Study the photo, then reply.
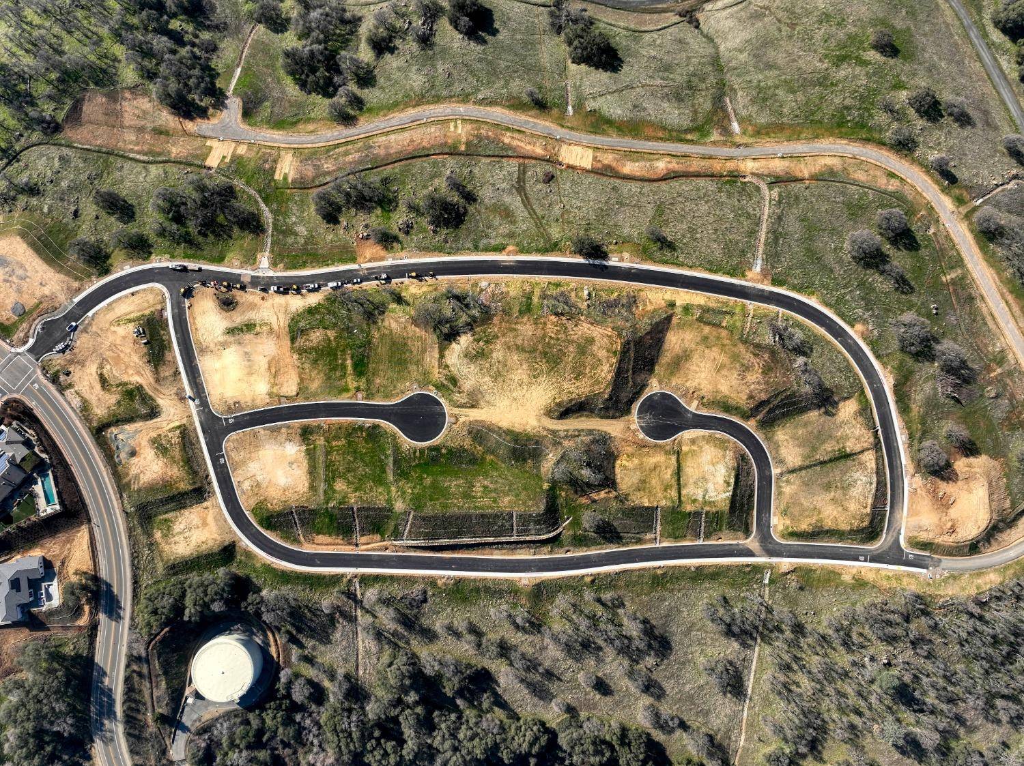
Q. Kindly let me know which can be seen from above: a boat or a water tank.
water tank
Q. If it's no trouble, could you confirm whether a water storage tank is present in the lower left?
Yes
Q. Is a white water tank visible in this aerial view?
Yes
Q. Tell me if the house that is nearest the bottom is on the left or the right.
left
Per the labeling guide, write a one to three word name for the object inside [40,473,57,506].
swimming pool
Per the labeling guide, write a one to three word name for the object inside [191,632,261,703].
water tank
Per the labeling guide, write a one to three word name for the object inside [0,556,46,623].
house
